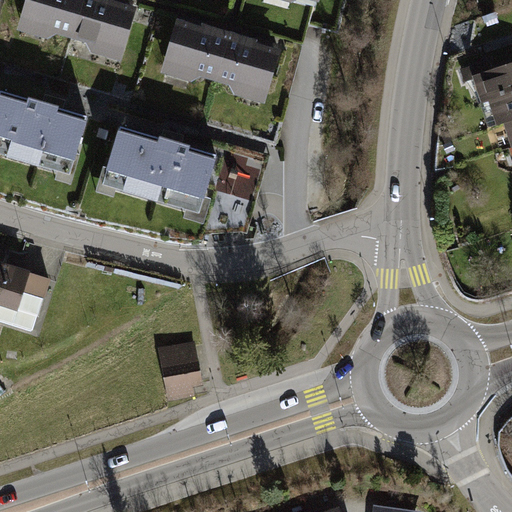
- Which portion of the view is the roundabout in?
bottom right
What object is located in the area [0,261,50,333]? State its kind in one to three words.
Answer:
house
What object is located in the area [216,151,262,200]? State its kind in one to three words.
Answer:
building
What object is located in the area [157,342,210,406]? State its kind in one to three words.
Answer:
barn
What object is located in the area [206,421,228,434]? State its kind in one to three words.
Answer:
vehicle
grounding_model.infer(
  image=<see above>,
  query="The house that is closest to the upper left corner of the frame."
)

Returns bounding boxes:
[17,0,138,69]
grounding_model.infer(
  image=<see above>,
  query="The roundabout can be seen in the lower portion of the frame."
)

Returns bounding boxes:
[349,305,488,444]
